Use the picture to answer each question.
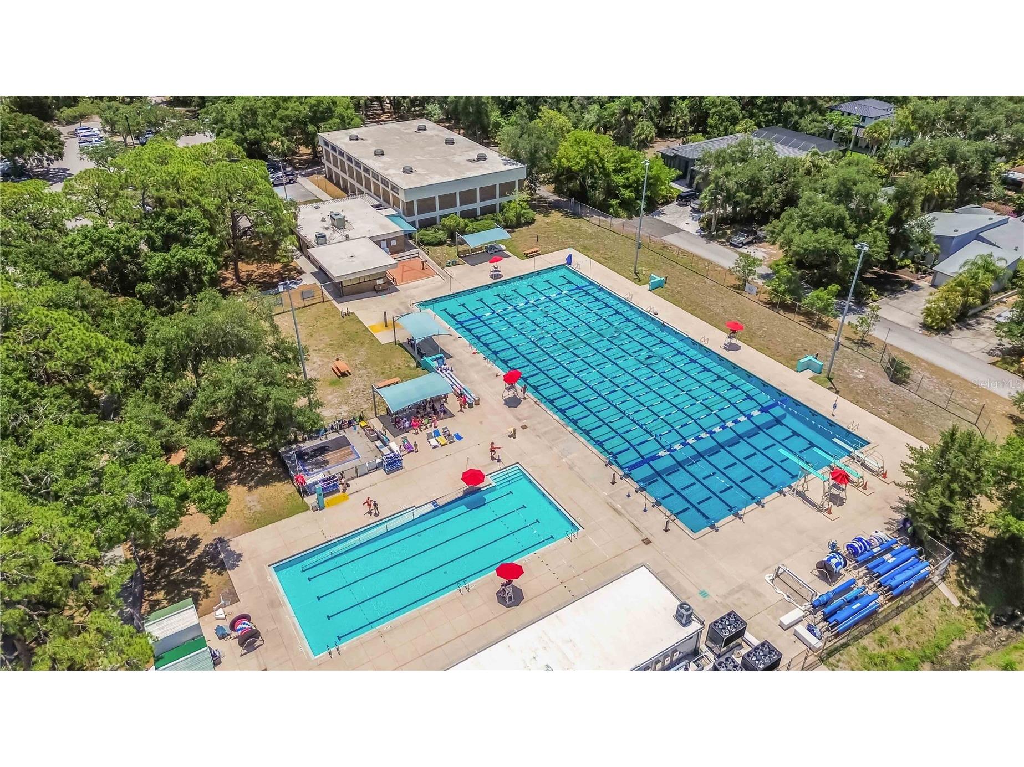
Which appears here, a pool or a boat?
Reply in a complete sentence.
Visible in the photo is a pool.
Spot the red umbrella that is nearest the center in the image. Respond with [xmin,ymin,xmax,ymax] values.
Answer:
[454,464,483,488]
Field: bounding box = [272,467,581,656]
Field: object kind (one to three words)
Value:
swimming pool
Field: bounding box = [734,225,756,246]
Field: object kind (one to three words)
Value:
car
